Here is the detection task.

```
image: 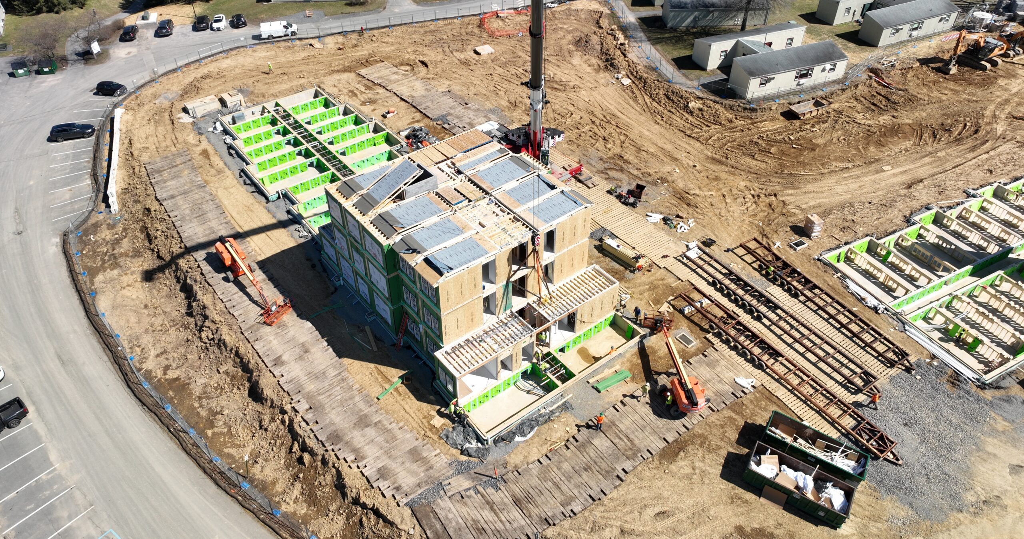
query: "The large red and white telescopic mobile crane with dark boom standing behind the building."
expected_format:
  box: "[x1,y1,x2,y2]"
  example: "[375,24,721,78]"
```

[466,0,595,233]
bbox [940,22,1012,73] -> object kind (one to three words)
work vehicle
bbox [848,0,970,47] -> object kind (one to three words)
house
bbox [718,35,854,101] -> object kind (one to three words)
house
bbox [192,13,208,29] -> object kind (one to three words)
car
